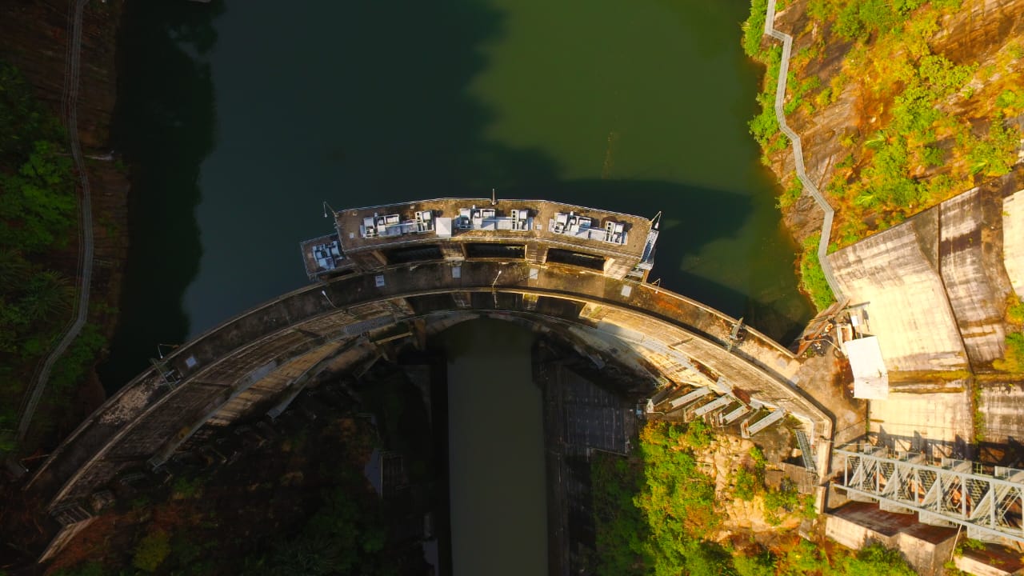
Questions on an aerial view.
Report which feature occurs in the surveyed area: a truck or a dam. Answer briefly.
dam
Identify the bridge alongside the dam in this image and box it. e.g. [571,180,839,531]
[811,442,1024,547]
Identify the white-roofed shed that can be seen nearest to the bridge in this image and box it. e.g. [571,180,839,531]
[839,336,888,399]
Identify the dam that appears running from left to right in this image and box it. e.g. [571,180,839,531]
[27,258,834,562]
